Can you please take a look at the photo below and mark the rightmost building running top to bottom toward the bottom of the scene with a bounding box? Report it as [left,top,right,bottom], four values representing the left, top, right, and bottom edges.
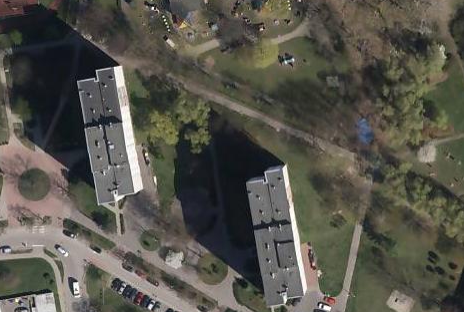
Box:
[245,163,308,308]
